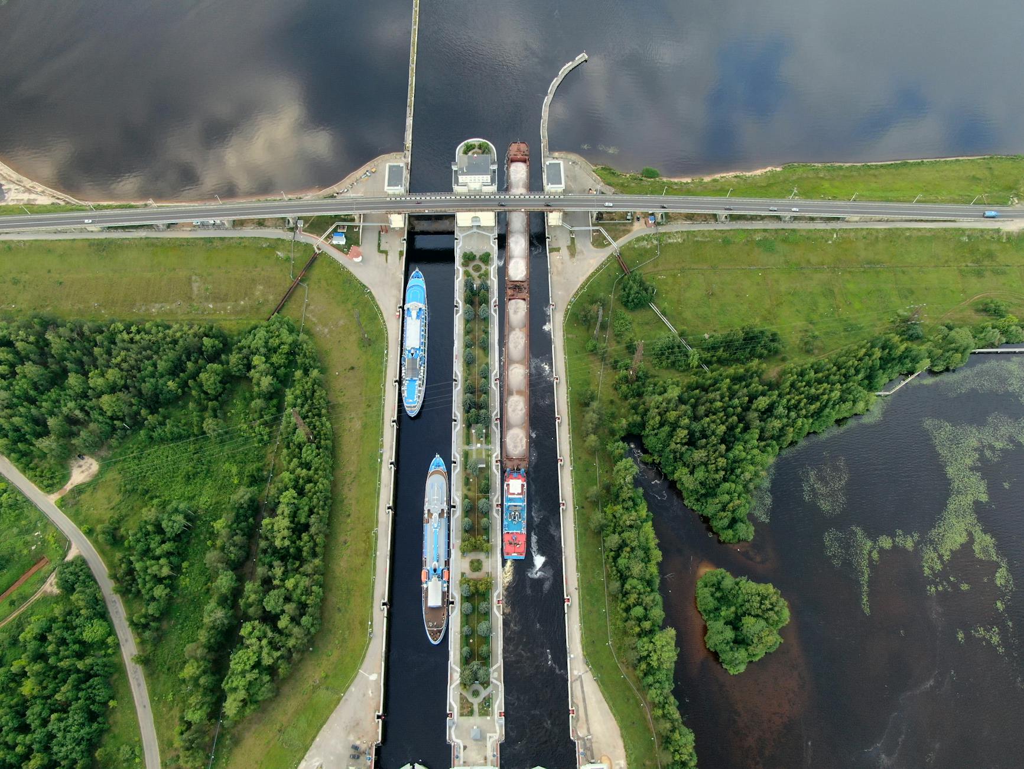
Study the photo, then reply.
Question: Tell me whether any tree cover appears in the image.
Yes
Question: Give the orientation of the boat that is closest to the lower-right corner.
up and down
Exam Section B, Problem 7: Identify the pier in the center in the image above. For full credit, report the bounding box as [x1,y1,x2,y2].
[447,138,505,769]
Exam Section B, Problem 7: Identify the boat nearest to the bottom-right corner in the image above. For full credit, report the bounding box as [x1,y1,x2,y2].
[503,468,526,559]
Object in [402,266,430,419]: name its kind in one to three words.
ship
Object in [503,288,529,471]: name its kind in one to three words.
ship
